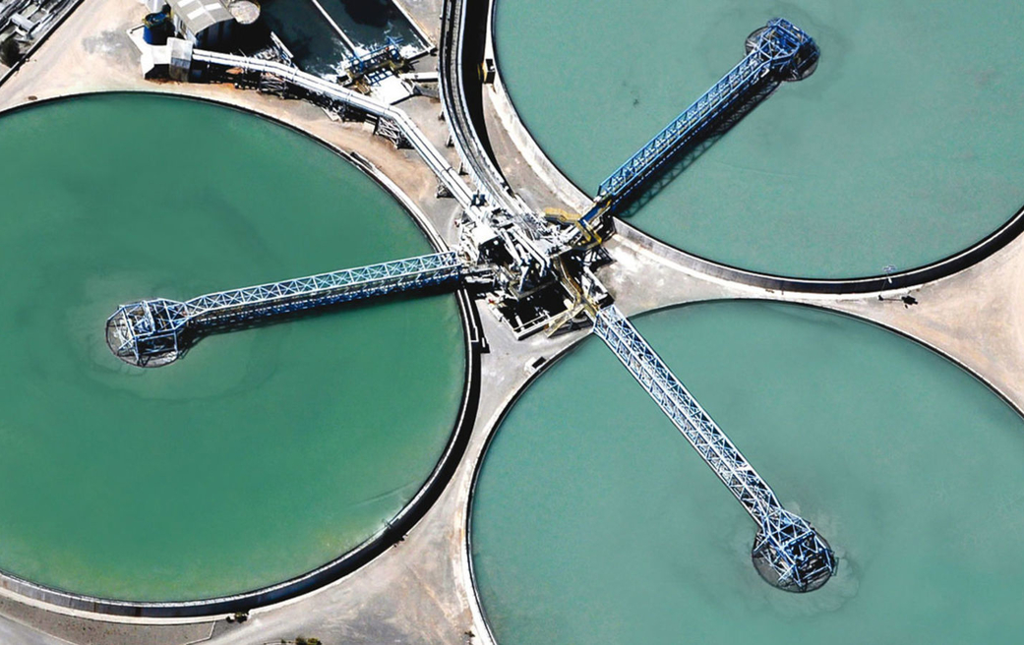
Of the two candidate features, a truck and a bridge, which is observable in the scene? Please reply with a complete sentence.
The image shows a bridge.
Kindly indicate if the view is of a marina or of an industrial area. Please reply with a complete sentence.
This image shows an industrial area.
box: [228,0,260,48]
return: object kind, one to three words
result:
silo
